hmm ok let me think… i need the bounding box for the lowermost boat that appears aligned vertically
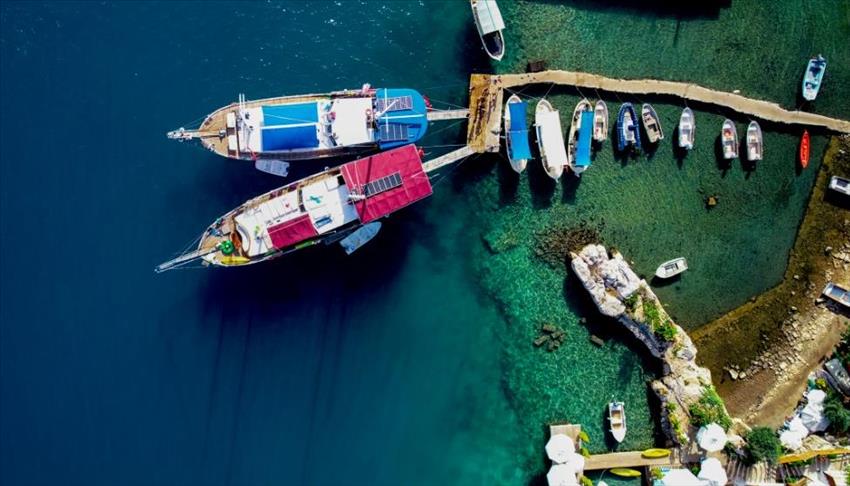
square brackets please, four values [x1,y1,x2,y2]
[610,400,629,444]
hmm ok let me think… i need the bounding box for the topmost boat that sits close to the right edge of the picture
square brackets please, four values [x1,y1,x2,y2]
[804,56,826,100]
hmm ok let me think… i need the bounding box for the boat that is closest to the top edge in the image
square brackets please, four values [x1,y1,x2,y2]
[475,0,507,60]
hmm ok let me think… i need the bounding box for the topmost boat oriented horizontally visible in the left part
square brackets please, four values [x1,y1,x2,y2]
[168,83,432,163]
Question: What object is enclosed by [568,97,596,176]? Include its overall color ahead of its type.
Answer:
blue boat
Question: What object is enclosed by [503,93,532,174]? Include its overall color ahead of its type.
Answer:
blue boat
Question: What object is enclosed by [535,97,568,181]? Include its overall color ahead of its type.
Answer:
white boat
